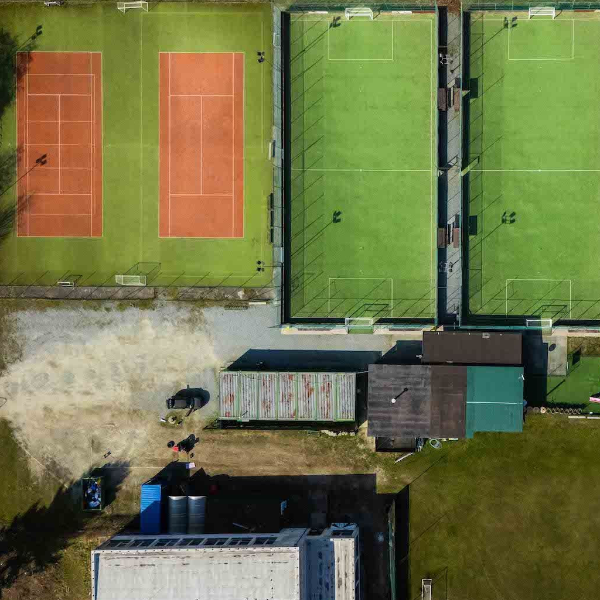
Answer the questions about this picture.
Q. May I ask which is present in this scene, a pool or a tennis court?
tennis court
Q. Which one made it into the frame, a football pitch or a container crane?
football pitch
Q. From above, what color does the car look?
black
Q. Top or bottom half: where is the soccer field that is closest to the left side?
top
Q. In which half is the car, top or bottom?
bottom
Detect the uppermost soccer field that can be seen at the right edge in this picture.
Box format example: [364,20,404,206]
[465,10,600,324]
